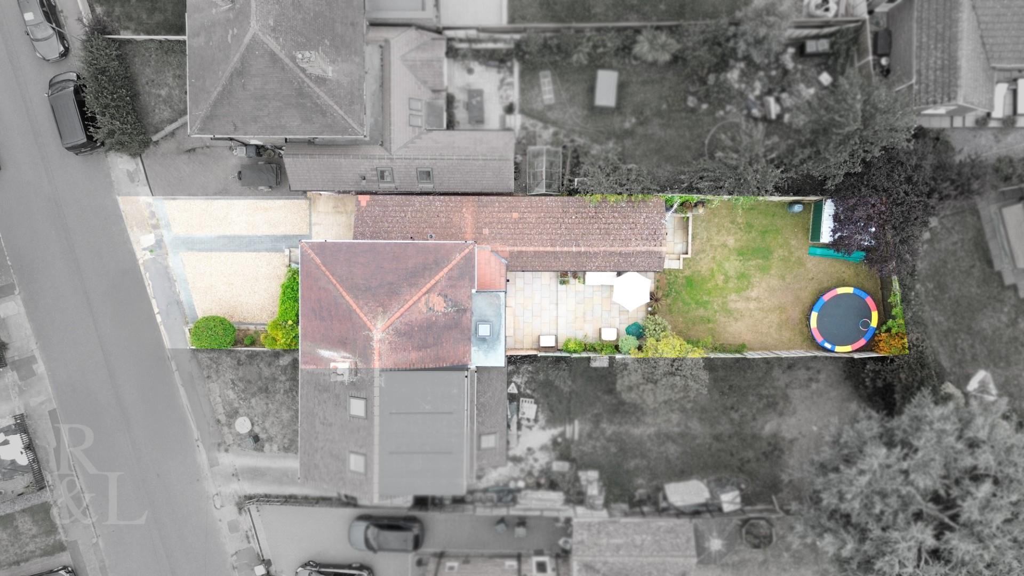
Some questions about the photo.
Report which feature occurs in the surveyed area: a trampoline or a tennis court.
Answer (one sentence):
Visible in the photo is a trampoline.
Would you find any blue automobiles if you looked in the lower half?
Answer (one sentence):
No, looking in the lower half, there is no blue automobile.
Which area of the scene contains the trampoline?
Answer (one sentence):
Look in the right portion of the view to spot the trampoline.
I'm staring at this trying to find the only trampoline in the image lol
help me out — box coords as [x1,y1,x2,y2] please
[802,284,878,354]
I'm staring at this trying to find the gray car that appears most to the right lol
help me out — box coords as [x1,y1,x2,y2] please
[349,516,425,557]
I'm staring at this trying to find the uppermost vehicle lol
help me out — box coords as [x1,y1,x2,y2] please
[18,0,72,59]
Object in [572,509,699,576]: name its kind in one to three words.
shed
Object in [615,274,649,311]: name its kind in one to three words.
umbrella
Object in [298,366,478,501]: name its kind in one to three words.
house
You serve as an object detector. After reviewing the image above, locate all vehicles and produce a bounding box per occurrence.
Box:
[9,566,72,576]
[349,516,425,557]
[45,74,104,159]
[295,560,372,576]
[18,0,72,59]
